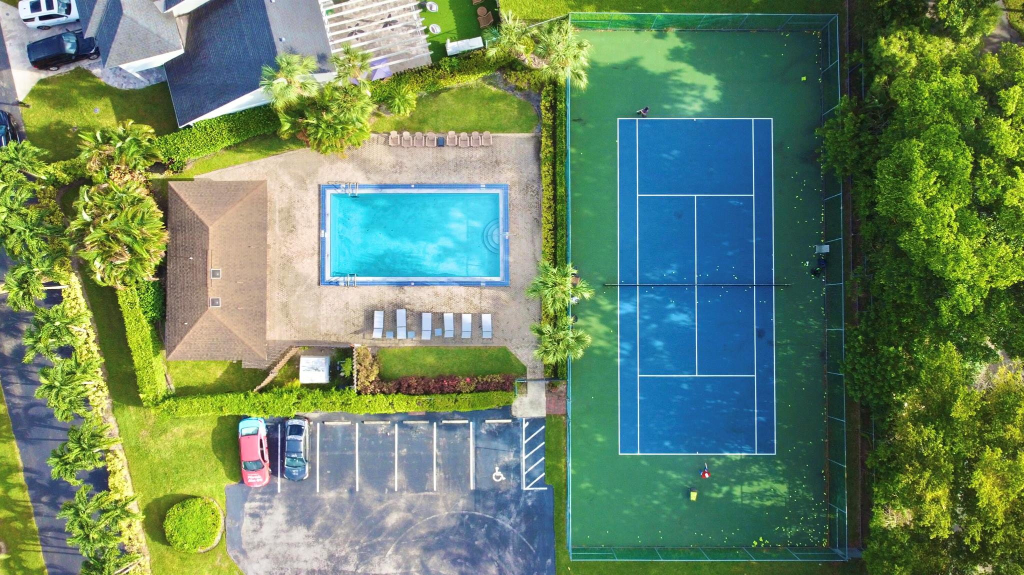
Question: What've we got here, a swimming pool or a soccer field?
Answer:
swimming pool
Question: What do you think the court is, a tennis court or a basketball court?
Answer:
tennis court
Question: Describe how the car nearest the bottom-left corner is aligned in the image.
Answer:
up and down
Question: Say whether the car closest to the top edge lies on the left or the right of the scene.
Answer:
left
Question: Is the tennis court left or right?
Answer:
right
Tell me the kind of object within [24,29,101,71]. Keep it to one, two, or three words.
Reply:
car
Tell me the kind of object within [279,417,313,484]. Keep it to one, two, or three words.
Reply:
car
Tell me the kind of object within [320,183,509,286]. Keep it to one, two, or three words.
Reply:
swimming pool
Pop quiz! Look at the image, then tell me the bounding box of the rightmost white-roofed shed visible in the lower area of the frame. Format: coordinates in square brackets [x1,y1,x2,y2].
[300,355,335,384]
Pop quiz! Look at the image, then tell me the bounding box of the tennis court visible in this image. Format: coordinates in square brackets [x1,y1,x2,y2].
[567,30,829,547]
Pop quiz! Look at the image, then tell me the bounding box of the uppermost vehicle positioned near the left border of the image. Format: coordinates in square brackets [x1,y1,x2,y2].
[11,0,86,33]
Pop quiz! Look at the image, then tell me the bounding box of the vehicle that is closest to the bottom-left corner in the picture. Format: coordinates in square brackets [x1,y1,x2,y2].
[237,418,272,488]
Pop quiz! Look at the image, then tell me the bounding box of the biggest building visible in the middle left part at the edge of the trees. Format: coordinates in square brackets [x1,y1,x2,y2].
[164,179,269,362]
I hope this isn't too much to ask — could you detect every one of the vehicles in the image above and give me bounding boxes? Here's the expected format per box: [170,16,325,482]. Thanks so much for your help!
[11,0,86,33]
[237,418,272,488]
[279,417,313,484]
[24,29,101,71]
[0,100,21,145]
